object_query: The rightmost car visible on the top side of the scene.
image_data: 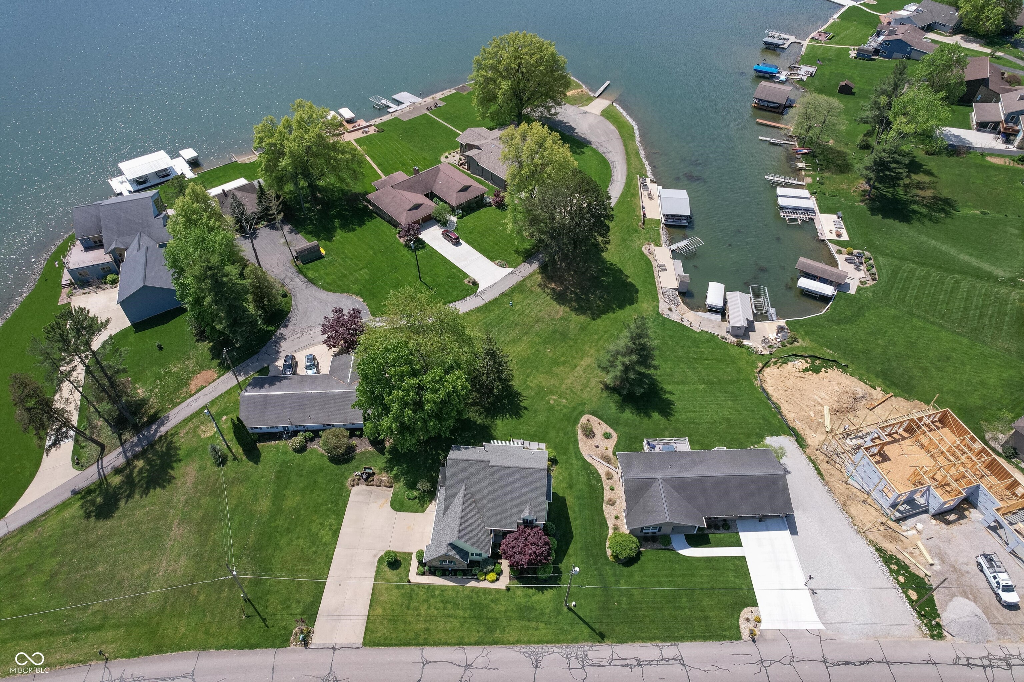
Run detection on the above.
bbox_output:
[440,228,461,243]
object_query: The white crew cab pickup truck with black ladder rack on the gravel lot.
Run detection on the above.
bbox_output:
[977,550,1021,605]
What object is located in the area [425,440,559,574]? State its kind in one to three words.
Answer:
house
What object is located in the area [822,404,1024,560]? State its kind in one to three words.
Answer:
house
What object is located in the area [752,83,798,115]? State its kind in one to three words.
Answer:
building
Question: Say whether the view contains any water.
Yes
